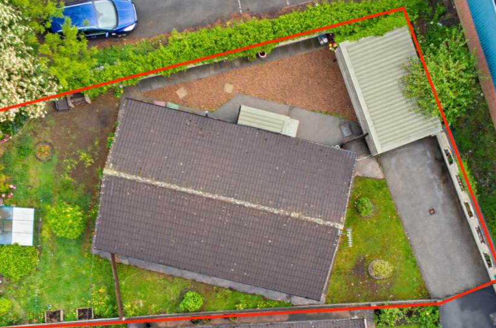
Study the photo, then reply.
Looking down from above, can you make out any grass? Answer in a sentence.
Yes, there's grass in this view.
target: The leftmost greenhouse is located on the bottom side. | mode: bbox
[0,206,38,246]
